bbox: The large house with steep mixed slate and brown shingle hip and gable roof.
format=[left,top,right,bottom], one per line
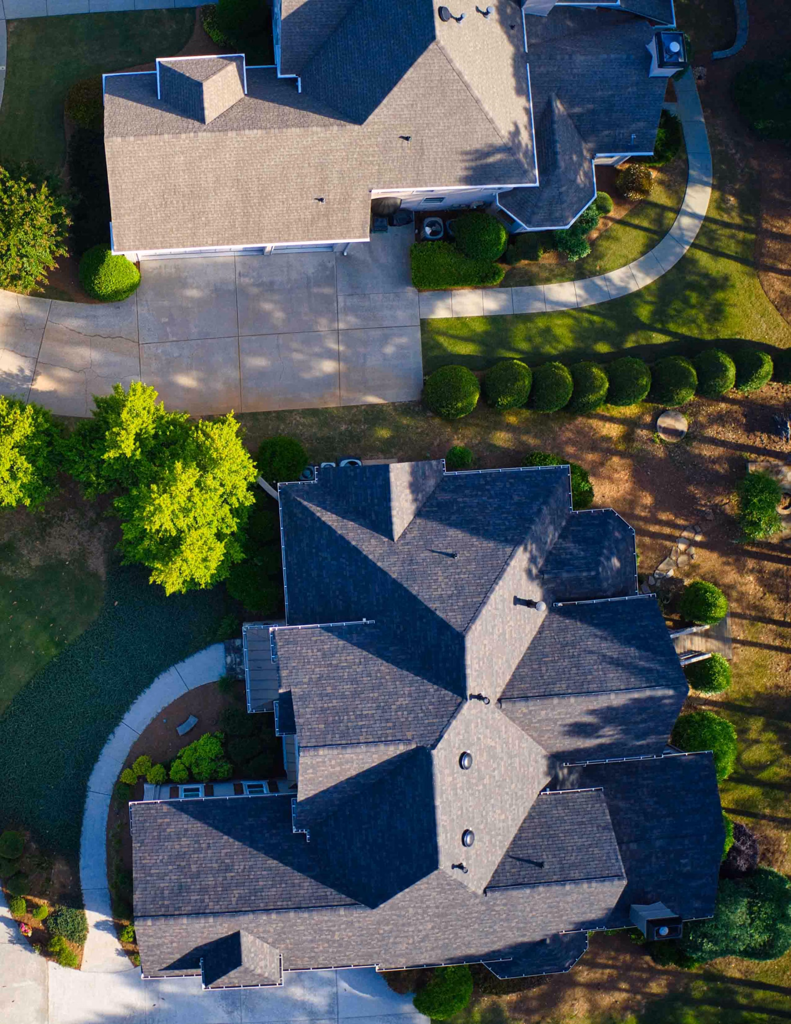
[128,459,723,992]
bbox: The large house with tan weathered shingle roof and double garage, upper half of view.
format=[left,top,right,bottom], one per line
[100,0,686,268]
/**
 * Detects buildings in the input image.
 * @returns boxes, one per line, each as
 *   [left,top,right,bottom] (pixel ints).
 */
[128,459,723,992]
[100,0,686,268]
